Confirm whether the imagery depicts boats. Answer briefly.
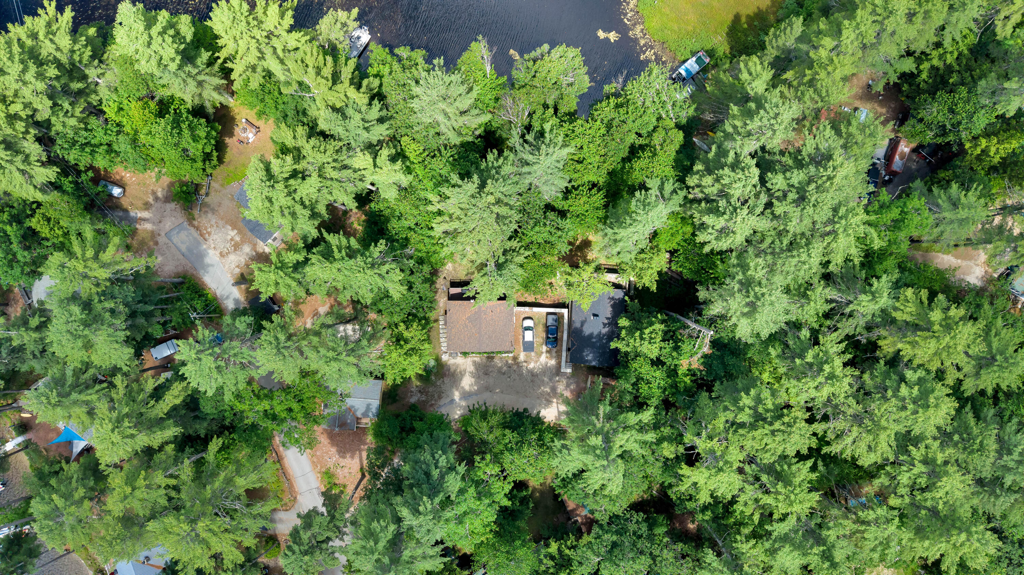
Yes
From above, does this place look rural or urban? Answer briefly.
rural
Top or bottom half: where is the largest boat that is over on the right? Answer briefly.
top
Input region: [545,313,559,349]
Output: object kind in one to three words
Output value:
vehicle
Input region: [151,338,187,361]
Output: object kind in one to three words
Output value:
camper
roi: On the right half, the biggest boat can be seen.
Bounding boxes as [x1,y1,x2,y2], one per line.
[671,48,712,87]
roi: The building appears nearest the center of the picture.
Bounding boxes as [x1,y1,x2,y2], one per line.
[445,287,514,352]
